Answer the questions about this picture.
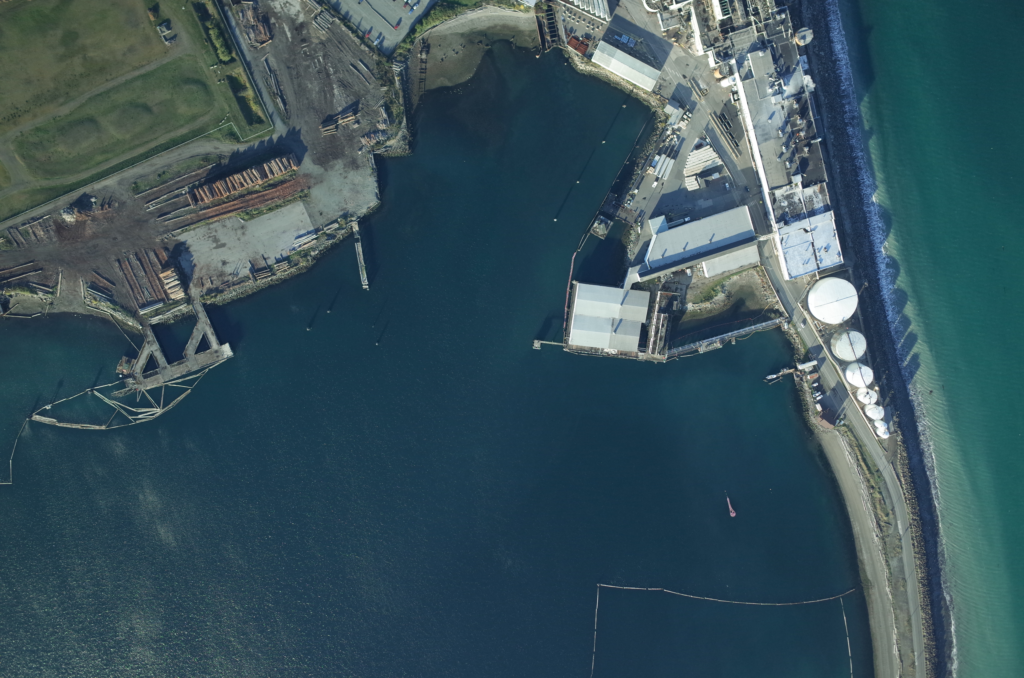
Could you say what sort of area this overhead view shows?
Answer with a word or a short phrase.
port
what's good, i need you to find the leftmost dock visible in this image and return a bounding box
[124,295,234,389]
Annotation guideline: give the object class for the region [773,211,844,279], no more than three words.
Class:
building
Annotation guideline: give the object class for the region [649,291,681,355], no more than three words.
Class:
building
